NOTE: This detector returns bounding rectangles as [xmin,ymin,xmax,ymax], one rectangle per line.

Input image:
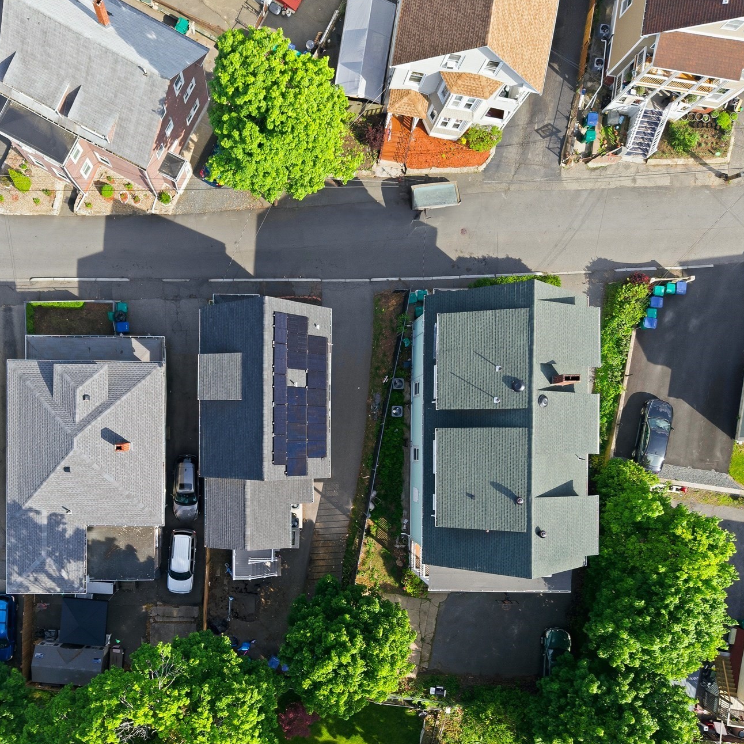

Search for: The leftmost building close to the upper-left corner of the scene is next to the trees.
[0,0,215,196]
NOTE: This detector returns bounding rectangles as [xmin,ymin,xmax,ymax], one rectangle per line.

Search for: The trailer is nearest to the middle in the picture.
[409,177,463,225]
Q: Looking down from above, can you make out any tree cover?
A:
Yes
